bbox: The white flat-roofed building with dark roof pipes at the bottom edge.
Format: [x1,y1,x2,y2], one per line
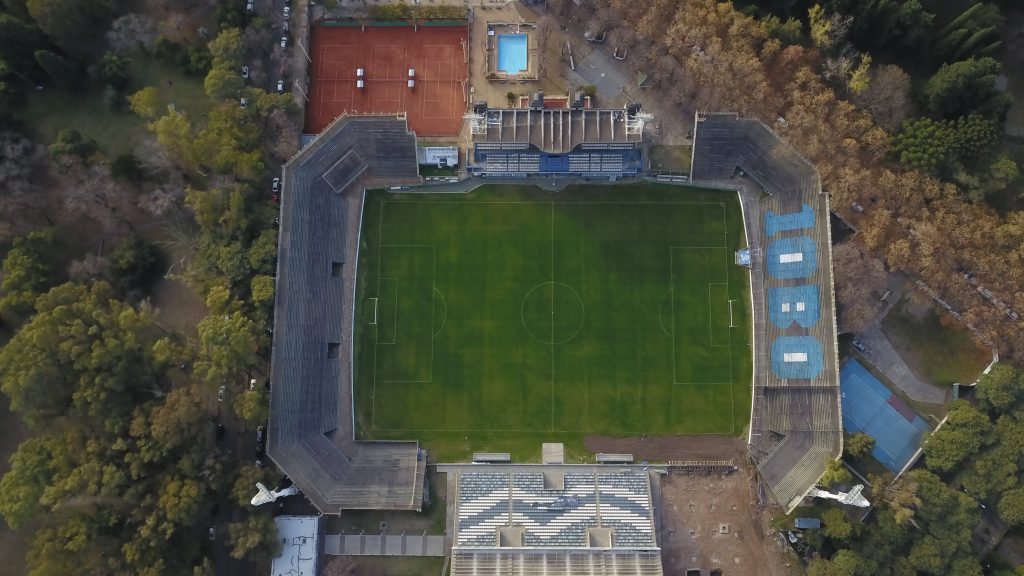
[272,513,323,576]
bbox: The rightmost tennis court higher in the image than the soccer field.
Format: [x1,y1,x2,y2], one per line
[414,31,465,130]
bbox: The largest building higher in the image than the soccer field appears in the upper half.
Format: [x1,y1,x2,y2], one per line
[419,147,458,170]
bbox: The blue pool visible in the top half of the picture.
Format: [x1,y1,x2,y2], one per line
[491,29,533,76]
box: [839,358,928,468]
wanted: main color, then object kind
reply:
blue sports court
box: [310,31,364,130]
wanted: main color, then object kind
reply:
red tennis court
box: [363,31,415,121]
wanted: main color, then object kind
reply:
red tennis court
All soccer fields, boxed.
[352,186,750,465]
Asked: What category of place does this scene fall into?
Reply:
sports ground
